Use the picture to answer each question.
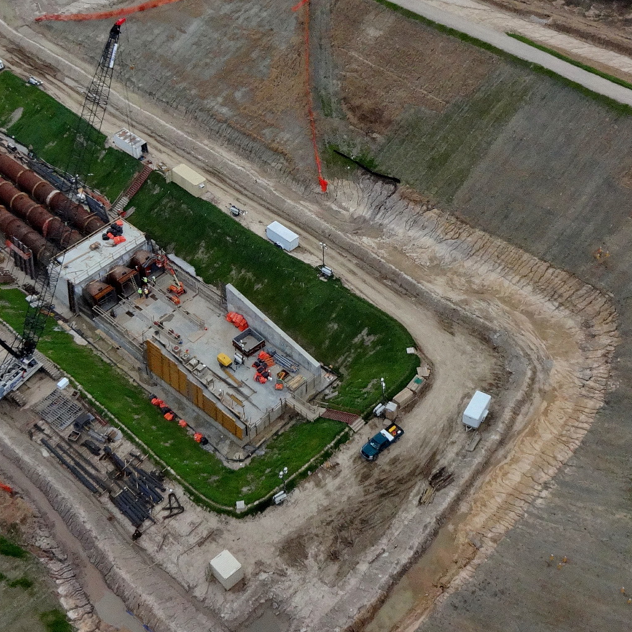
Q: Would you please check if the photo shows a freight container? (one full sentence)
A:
Yes, I can see a freight container in this picture.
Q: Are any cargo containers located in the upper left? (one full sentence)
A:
Yes, a cargo container can be seen in the upper left.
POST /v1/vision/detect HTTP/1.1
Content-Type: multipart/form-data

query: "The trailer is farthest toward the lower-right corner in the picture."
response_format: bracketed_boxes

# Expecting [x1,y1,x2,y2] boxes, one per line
[463,392,491,436]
